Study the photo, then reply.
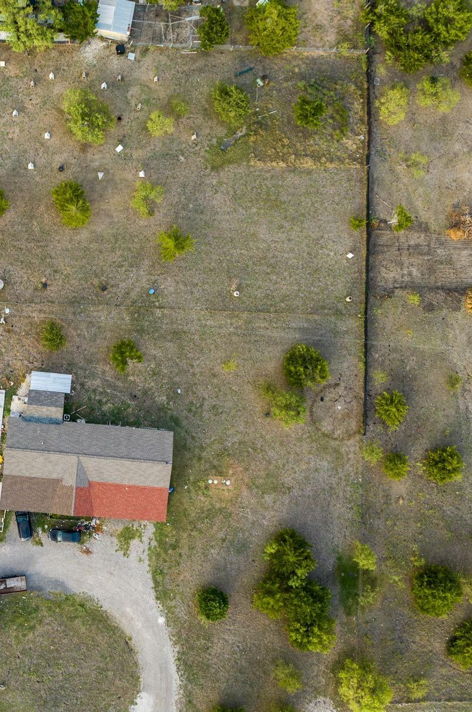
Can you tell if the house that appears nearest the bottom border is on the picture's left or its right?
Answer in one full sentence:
The house that appears nearest the bottom border appears in the left half of the scene.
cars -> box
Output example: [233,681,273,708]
[48,528,81,543]
[14,512,31,543]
